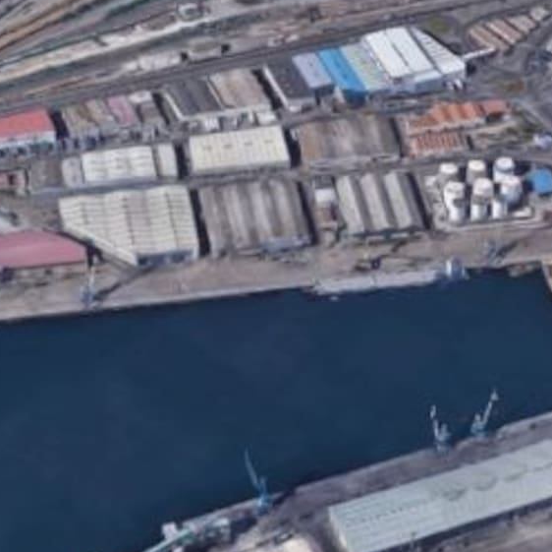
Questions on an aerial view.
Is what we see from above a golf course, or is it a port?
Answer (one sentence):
It's a port.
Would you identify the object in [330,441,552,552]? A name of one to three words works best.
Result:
warehouse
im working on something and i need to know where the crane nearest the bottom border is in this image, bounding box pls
[251,444,274,514]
